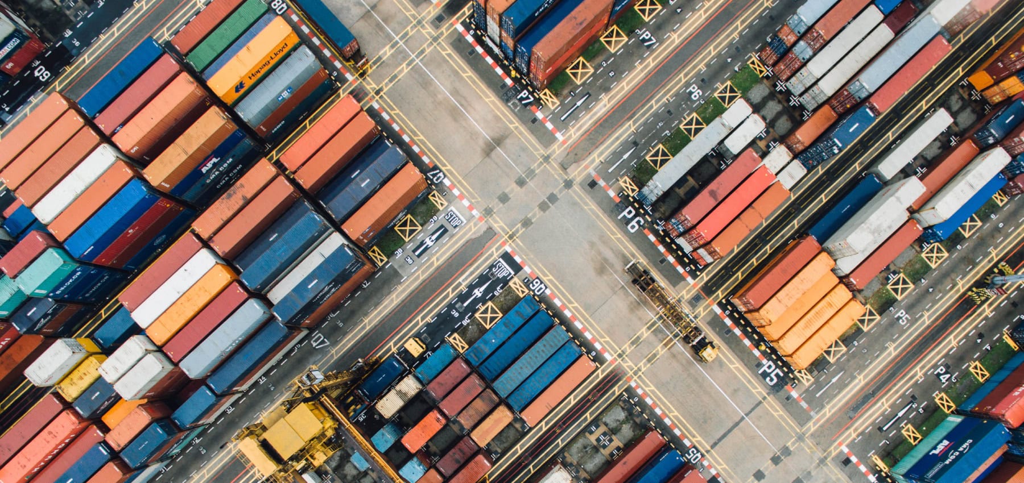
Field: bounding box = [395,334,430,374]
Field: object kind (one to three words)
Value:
truck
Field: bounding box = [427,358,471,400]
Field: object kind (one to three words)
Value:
shipping container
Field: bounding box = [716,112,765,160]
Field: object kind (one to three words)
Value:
shipping container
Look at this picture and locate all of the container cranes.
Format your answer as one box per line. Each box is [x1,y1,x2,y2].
[220,356,406,483]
